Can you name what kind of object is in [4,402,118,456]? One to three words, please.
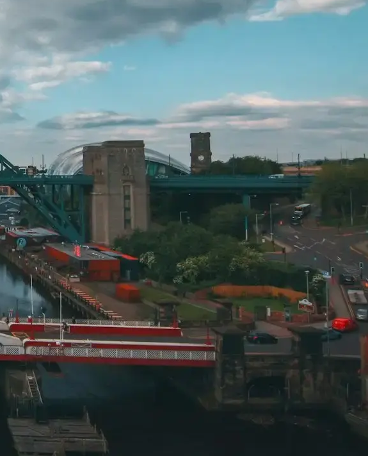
pier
